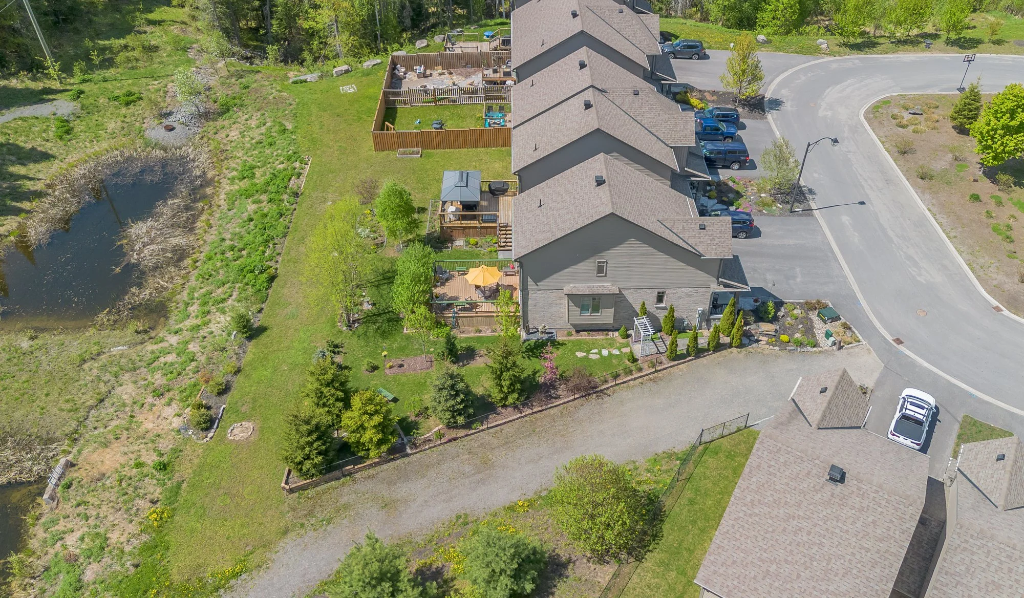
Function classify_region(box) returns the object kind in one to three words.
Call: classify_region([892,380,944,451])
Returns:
truck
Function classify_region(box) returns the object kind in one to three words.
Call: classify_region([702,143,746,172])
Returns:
truck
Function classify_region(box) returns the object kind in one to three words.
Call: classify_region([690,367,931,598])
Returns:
house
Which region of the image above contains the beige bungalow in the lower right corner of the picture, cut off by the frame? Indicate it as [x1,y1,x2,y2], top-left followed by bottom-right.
[886,436,1024,598]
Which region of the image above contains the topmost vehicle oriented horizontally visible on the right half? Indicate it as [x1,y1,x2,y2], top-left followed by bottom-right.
[661,40,704,60]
